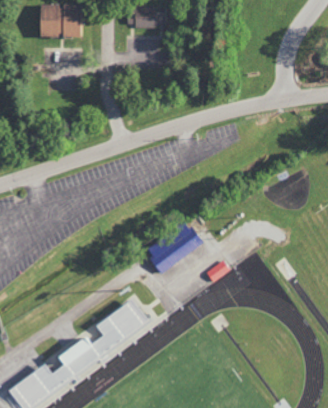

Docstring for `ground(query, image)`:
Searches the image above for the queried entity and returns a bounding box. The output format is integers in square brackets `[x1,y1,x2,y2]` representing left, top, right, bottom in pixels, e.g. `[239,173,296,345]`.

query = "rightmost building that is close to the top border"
[128,4,157,30]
